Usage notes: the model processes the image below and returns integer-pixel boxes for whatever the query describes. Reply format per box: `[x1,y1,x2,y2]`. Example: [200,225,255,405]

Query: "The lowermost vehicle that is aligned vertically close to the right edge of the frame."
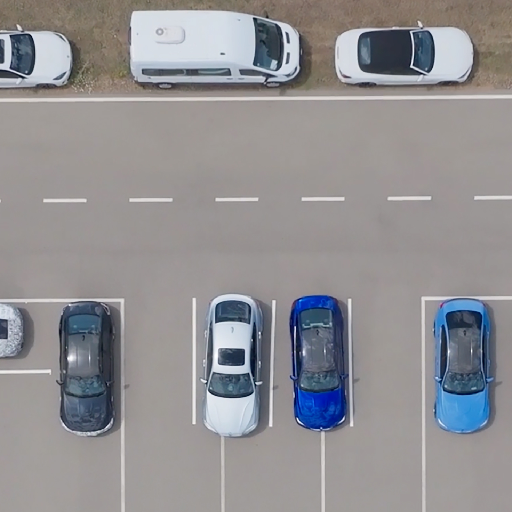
[432,298,497,435]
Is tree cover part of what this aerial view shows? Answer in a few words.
No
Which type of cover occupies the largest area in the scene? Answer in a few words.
paved ground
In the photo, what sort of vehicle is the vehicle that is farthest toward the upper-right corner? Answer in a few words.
automobile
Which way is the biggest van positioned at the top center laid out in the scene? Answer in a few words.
horizontally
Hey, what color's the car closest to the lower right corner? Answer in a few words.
blue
